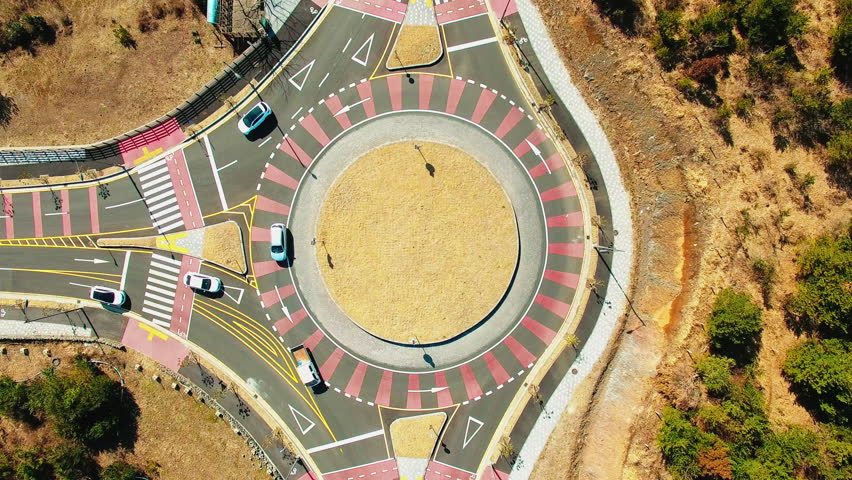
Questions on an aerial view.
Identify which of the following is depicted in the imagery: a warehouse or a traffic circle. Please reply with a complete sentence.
I can see a traffic circle in this picture.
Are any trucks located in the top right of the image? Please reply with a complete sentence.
No, no truck can be made out in the top right of the image.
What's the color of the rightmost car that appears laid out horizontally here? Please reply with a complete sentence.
The rightmost car that appears laid out horizontally looks white in the image.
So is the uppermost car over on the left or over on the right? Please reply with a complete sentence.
It is on the left.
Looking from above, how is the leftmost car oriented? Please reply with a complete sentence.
I'd say the leftmost car is aligned from side to side in the picture.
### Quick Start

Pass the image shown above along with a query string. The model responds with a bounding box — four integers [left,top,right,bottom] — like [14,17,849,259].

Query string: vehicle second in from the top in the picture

[269,223,288,261]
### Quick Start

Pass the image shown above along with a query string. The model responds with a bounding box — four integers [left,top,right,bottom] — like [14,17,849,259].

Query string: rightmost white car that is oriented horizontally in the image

[181,271,223,294]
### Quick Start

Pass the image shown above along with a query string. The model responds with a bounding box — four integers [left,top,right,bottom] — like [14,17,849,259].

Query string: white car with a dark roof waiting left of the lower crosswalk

[87,285,126,306]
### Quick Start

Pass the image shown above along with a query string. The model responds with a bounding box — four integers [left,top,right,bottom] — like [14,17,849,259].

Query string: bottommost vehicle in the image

[290,344,320,388]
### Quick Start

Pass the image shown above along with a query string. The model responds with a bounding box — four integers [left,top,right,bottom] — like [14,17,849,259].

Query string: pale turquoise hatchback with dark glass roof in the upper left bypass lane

[238,101,273,135]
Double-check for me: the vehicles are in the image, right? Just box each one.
[238,101,273,135]
[87,285,126,306]
[290,344,320,388]
[181,271,223,294]
[269,223,288,261]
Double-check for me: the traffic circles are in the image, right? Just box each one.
[250,74,584,408]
